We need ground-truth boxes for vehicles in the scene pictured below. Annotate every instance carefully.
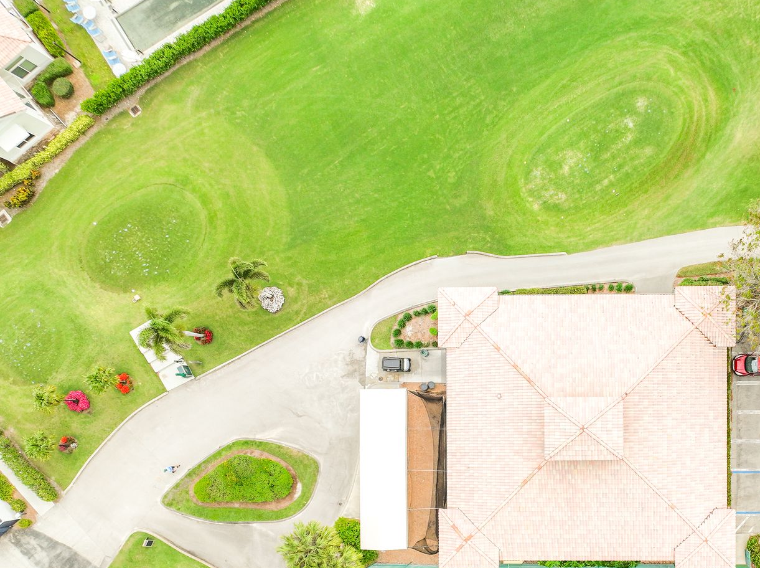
[733,351,760,377]
[377,355,410,373]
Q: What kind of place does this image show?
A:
golf course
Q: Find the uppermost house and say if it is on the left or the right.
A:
left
